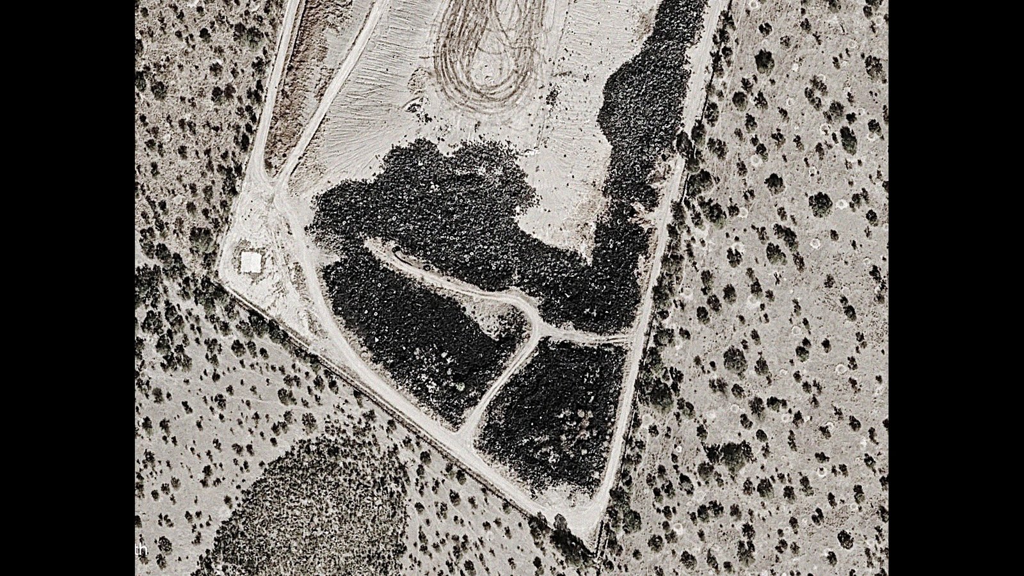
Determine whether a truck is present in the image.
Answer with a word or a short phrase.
No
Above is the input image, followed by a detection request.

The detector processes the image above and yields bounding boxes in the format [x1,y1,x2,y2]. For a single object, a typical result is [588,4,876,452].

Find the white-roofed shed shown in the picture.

[240,251,261,273]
